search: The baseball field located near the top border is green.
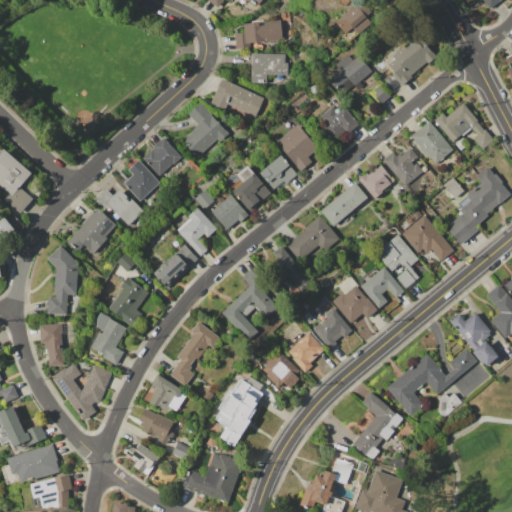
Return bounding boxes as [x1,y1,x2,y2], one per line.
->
[1,4,186,124]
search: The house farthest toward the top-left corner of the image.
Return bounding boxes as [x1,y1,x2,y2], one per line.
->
[0,149,31,195]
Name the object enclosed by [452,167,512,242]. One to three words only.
house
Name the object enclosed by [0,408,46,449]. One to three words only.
house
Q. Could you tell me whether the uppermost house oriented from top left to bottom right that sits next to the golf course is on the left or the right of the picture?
right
